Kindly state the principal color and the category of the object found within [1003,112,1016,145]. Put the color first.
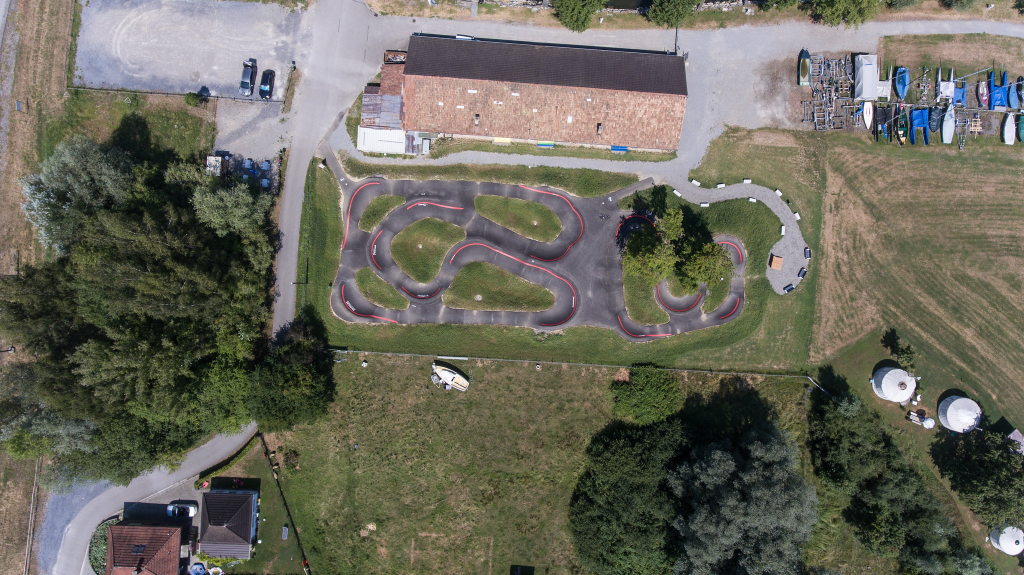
white boat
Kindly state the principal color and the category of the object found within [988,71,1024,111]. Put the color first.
blue boat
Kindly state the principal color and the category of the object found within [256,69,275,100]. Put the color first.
black car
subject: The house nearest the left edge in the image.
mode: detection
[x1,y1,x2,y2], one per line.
[106,518,193,575]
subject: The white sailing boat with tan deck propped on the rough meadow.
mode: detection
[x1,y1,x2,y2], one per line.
[432,364,470,394]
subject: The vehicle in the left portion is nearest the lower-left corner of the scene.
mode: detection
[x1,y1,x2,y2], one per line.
[168,502,199,518]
